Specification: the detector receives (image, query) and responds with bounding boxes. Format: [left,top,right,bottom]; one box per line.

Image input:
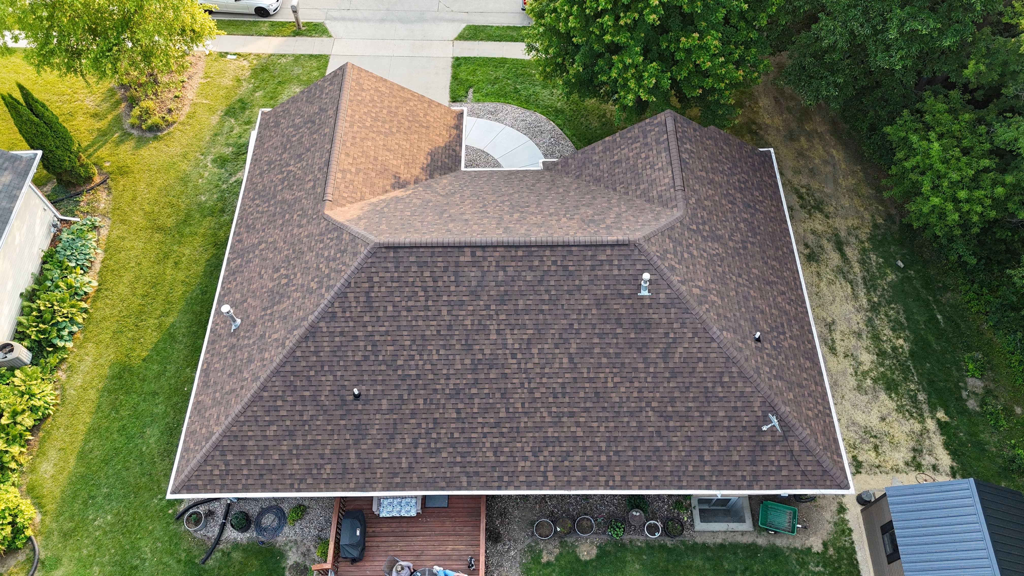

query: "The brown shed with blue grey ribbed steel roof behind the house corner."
[860,479,1024,576]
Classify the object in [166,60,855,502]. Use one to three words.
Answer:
house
